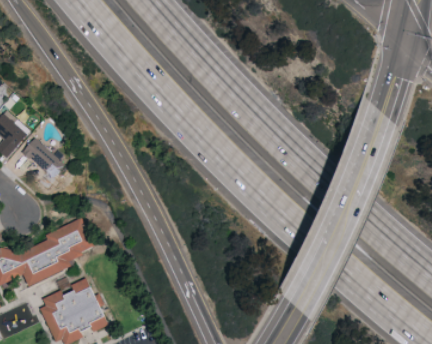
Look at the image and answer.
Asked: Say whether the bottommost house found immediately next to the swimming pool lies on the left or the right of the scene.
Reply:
left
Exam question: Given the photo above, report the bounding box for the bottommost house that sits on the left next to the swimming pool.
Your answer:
[22,136,63,173]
